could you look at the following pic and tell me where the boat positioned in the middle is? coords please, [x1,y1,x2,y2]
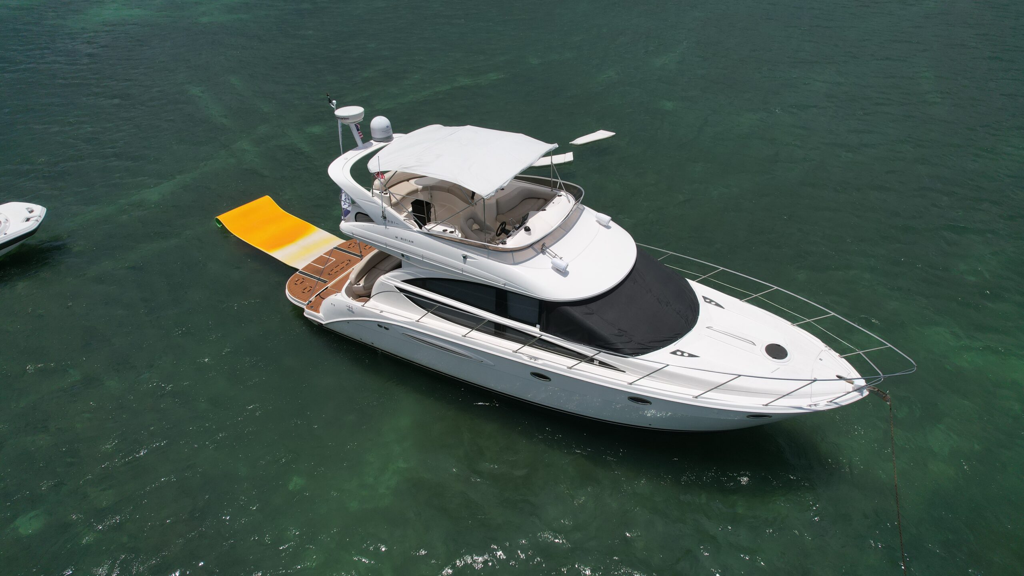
[286,87,920,437]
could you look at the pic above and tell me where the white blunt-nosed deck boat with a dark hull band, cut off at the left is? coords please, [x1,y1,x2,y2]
[0,203,48,260]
